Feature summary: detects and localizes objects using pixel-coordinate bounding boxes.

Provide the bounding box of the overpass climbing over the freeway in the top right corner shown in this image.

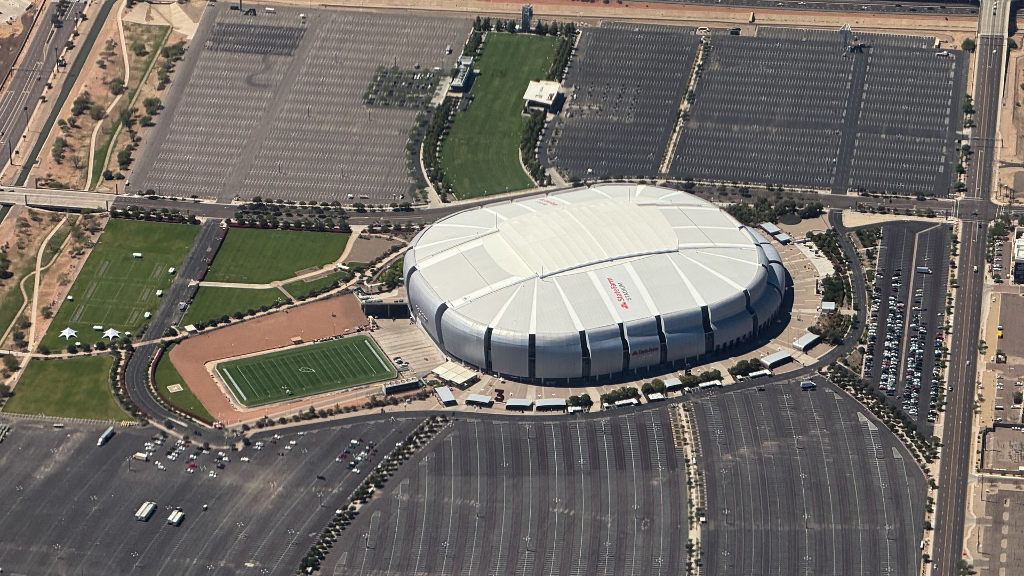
[967,0,1017,133]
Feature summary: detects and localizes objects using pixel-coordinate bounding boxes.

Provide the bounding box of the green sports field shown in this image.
[216,334,396,407]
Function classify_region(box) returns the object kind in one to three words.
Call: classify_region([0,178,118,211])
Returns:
bridge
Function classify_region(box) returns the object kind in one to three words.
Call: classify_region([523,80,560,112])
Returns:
building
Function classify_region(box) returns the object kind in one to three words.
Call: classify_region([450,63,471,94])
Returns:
building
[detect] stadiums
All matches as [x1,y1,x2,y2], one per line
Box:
[403,183,784,382]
